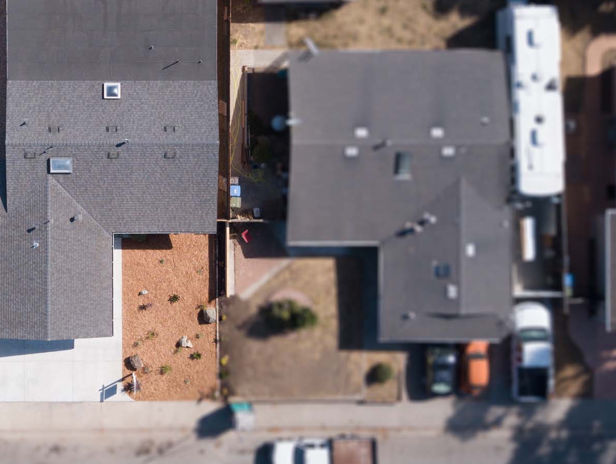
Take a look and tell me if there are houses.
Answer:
Yes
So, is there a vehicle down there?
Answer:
Yes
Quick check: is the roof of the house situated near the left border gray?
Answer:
Yes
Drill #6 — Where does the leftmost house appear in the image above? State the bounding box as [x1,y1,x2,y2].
[0,0,219,340]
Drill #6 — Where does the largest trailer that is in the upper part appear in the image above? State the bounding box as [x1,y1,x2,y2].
[502,6,560,209]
